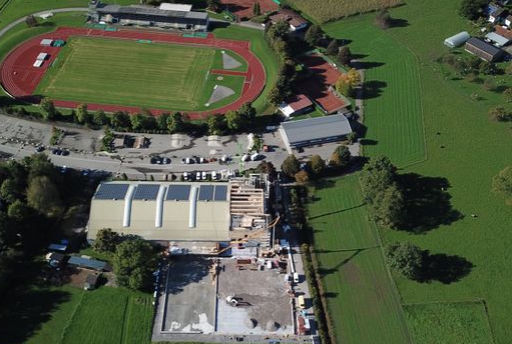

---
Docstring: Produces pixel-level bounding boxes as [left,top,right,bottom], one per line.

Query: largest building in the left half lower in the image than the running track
[88,180,228,249]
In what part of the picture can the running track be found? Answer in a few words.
top left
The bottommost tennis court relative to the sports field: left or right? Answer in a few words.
to the right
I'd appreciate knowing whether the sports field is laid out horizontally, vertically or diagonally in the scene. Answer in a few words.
horizontally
